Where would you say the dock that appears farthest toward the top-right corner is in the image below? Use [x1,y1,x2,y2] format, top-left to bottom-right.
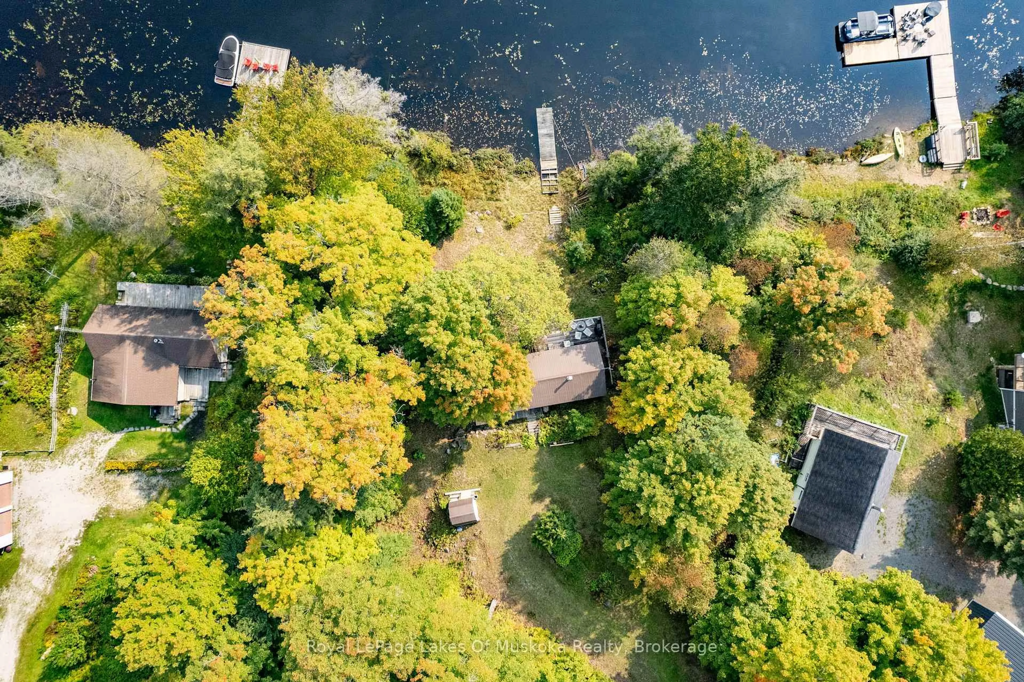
[840,0,962,127]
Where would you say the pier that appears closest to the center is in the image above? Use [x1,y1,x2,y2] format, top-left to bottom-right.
[536,107,558,186]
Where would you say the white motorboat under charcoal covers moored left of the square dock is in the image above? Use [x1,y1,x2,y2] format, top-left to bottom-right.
[213,34,238,87]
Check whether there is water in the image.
Yes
